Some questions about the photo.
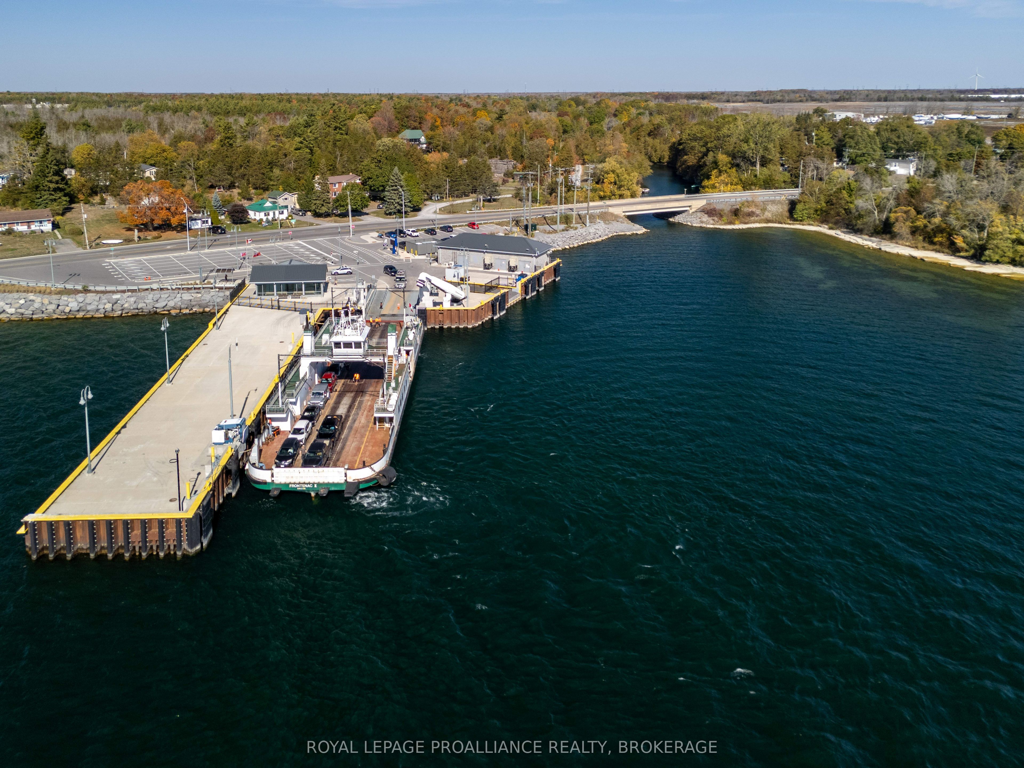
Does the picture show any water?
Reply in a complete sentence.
Yes, there is water in the image.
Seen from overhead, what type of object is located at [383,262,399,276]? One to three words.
car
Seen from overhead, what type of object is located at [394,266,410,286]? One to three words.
vehicle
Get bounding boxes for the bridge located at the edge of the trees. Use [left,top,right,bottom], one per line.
[574,195,708,217]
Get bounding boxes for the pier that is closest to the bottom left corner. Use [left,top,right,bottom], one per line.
[11,279,381,559]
